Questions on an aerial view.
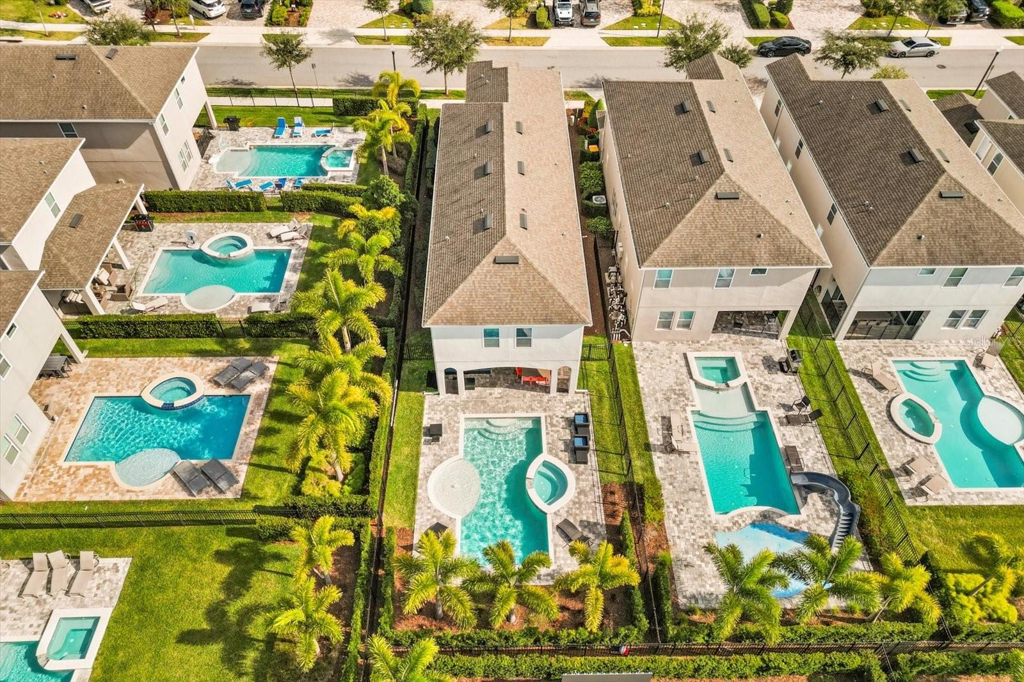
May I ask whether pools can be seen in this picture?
Yes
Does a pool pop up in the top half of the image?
Yes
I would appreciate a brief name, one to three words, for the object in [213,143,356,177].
swimming pool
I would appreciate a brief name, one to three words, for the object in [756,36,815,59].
car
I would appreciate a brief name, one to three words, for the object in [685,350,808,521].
swimming pool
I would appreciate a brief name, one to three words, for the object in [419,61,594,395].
house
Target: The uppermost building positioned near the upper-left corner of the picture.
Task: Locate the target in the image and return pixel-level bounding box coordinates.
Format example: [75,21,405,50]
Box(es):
[0,46,218,190]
